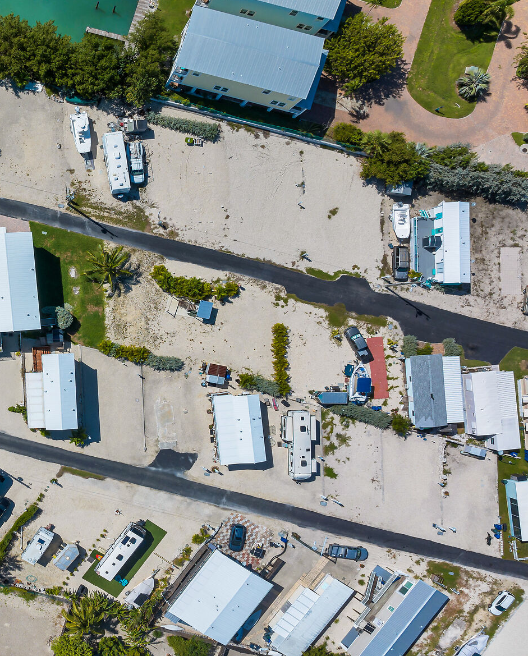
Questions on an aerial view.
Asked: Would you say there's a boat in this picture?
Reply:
Yes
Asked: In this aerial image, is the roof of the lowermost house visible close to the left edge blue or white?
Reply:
white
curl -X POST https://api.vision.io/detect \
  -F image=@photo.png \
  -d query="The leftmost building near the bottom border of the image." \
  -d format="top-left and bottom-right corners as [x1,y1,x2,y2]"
[171,546,271,649]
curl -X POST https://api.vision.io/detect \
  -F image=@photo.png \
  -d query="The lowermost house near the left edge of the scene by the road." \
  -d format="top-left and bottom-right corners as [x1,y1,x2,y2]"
[24,344,78,430]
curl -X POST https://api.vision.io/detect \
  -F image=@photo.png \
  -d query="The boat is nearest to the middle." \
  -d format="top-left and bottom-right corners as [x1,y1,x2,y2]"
[347,363,372,409]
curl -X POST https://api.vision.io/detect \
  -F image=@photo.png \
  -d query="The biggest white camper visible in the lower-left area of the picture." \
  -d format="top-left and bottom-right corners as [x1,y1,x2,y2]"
[94,525,142,580]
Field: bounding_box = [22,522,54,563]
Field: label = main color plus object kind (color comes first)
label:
white trailer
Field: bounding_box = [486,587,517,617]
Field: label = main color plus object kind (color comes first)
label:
white car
